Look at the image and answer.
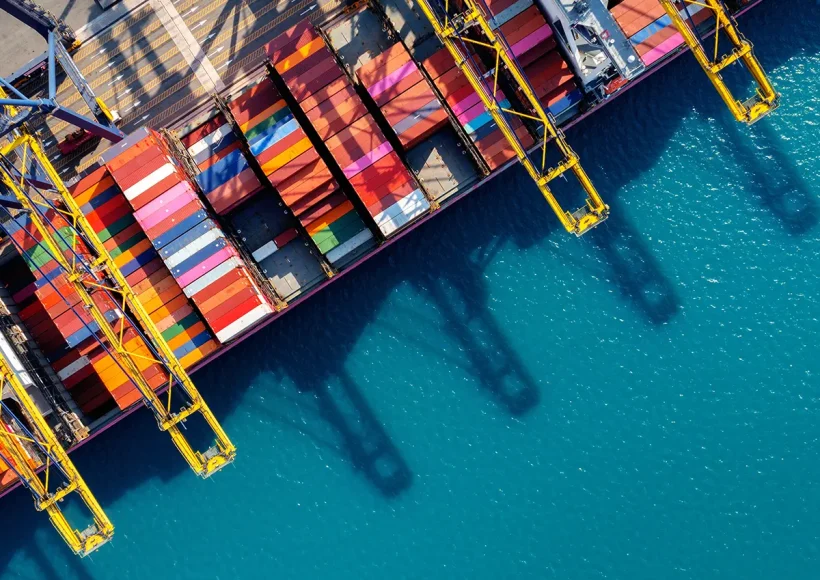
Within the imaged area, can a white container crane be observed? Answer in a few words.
No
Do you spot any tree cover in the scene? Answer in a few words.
No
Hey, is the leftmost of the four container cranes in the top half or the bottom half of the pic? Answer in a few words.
bottom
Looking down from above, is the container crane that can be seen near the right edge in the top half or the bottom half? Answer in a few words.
top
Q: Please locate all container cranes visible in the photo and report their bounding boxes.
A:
[420,0,612,236]
[0,348,114,560]
[662,0,786,125]
[0,0,235,480]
